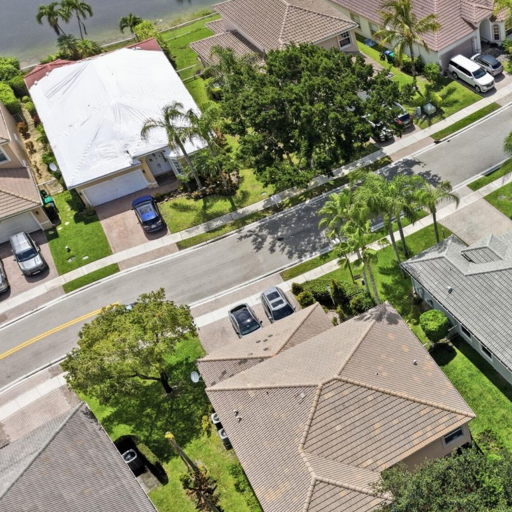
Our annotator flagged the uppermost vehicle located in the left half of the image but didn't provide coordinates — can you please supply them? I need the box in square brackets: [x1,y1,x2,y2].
[132,194,168,236]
